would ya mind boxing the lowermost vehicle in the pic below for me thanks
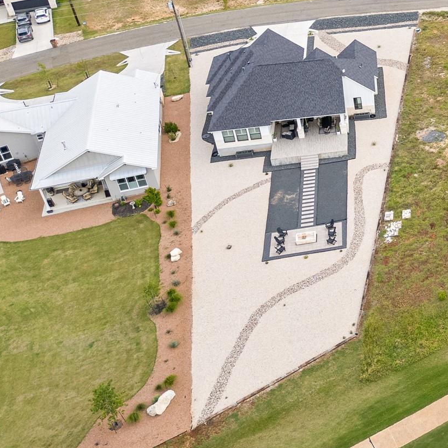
[12,26,36,45]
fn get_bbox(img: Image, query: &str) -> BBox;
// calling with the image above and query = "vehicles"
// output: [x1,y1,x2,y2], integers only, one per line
[12,26,36,45]
[31,8,52,25]
[11,8,33,25]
